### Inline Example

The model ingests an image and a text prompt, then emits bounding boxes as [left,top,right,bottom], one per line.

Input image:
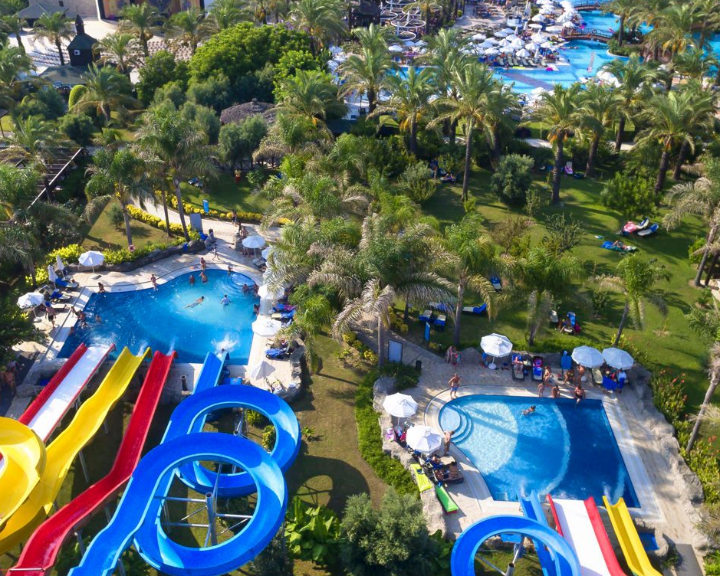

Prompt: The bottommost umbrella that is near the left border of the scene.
[18,295,49,333]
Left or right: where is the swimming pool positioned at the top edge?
right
